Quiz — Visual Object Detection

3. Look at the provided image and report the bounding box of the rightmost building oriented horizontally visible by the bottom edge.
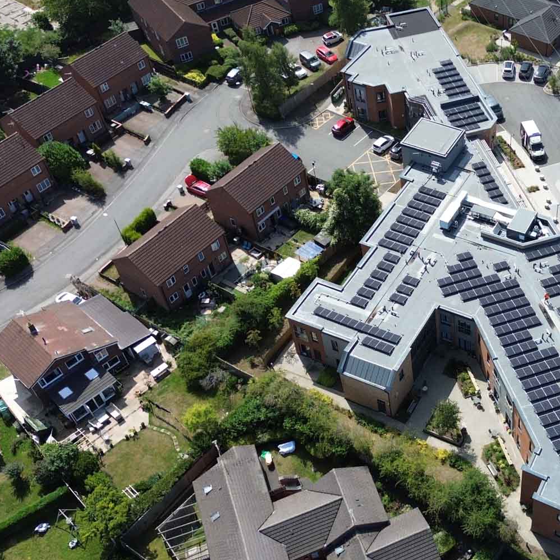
[192,437,441,560]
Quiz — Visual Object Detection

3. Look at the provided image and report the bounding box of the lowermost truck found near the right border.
[523,119,547,158]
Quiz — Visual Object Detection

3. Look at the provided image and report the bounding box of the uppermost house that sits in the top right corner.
[469,0,560,56]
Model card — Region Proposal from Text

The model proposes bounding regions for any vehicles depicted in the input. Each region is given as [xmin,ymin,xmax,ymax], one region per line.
[523,119,547,158]
[486,95,504,118]
[222,68,241,83]
[299,49,321,68]
[316,47,338,62]
[331,117,357,135]
[296,64,307,77]
[370,135,397,154]
[48,291,91,310]
[535,64,550,82]
[320,30,346,46]
[520,59,533,79]
[503,59,515,79]
[180,171,212,194]
[385,140,402,159]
